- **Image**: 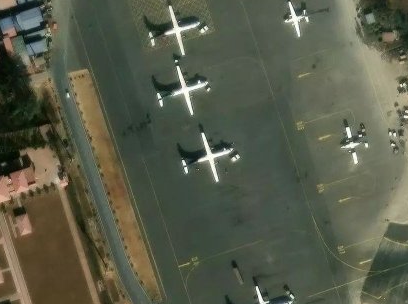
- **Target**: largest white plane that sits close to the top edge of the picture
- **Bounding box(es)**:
[149,6,200,56]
